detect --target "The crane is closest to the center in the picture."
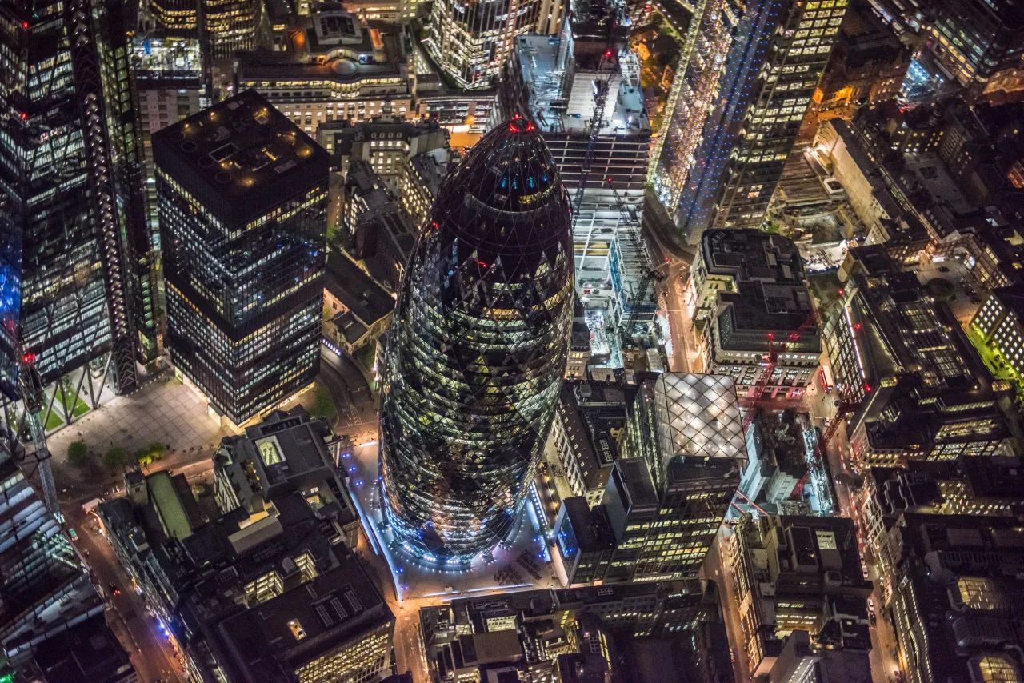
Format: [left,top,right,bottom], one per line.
[605,179,668,333]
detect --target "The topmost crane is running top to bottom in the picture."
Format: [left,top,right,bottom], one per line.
[583,13,618,121]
